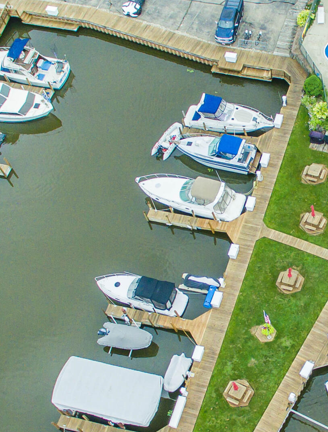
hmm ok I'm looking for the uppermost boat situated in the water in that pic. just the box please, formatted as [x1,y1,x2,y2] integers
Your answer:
[0,33,73,90]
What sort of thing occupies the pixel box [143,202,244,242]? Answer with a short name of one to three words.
pier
